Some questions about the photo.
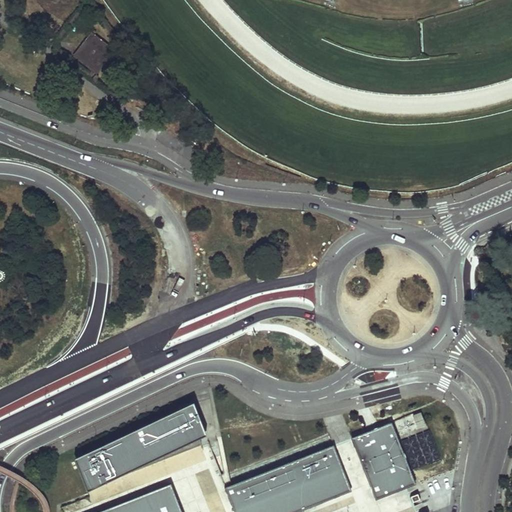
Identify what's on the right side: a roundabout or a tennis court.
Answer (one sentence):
There is a roundabout on the right side.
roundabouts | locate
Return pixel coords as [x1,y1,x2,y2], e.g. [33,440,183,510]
[316,223,464,371]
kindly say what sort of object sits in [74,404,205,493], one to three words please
building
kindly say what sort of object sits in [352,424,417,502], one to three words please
building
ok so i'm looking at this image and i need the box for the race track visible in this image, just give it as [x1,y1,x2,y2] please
[104,0,512,191]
